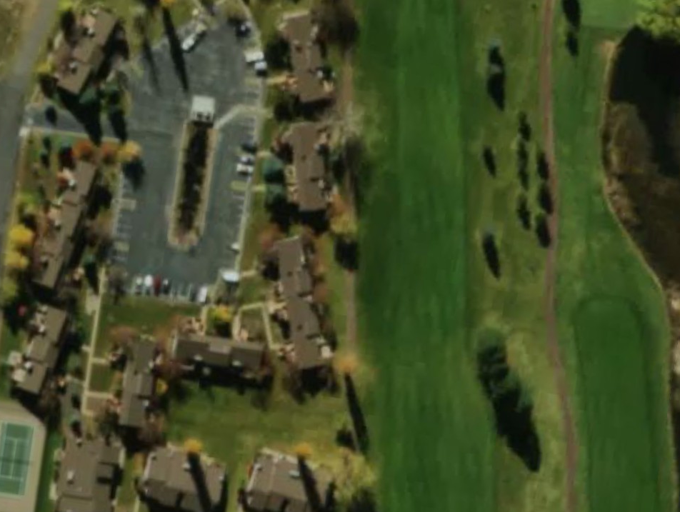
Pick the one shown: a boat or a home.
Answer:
home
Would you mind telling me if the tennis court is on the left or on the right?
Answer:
left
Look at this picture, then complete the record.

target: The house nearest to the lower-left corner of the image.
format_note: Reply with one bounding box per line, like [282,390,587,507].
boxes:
[46,436,119,512]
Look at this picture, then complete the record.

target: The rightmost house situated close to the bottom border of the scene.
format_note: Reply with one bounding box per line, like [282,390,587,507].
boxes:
[243,441,338,512]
